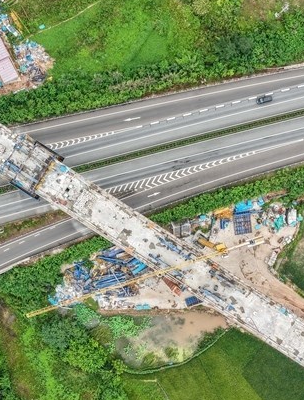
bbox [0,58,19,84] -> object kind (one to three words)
shed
